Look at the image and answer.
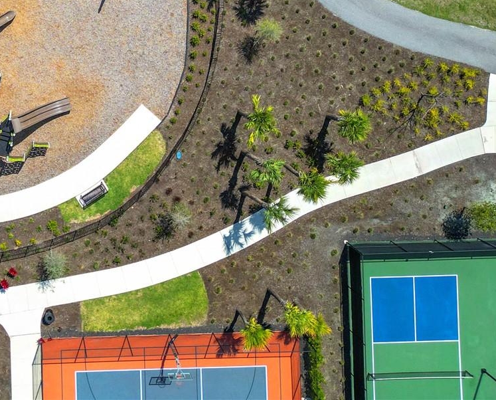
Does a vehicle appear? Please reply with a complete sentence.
No, the picture doesn't show any vehicle.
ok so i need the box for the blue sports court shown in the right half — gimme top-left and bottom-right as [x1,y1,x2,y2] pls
[370,274,463,400]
